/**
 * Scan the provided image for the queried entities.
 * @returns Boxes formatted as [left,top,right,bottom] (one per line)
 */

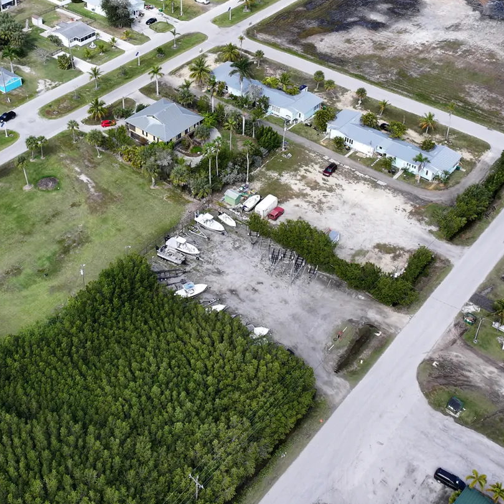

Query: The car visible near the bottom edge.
[432,464,466,492]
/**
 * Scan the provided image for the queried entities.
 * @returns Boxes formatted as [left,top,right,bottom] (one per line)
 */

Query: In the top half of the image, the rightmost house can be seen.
[328,113,460,185]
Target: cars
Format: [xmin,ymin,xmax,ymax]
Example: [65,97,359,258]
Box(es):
[144,19,159,25]
[324,163,336,177]
[98,119,118,128]
[267,207,284,220]
[432,464,466,492]
[0,113,16,122]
